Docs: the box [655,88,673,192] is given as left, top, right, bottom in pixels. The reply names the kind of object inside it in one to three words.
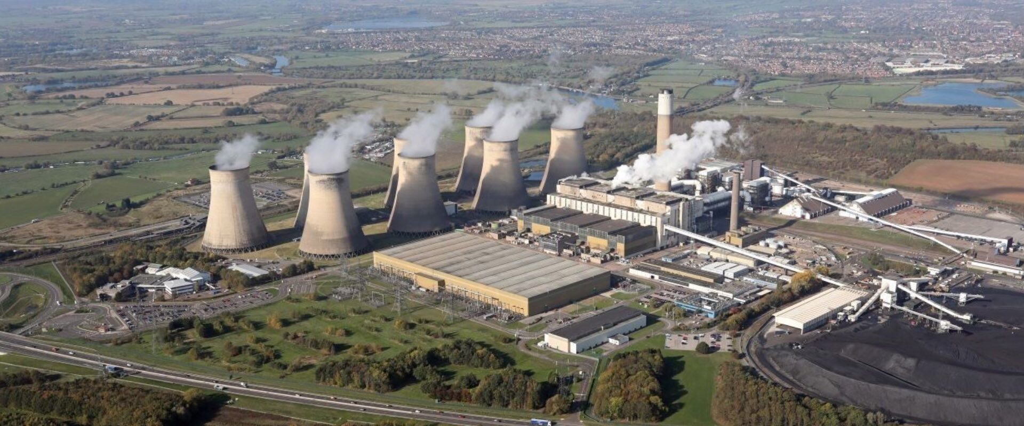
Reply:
chimney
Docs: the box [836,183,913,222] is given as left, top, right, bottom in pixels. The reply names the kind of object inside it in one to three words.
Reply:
barn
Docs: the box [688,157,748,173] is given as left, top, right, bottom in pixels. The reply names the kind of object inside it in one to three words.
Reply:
building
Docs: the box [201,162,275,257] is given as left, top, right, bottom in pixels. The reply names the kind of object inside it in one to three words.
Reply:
cooling tower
